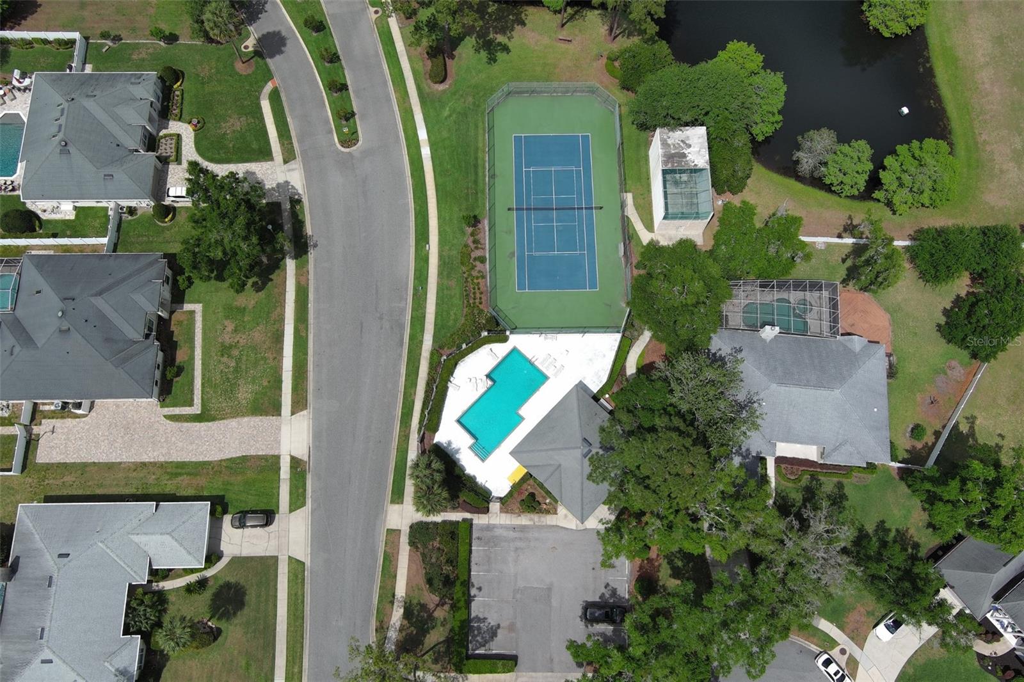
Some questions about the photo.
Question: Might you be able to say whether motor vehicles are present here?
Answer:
Yes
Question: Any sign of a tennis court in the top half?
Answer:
Yes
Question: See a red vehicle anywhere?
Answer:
No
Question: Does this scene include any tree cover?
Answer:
Yes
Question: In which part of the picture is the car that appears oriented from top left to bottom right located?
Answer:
bottom right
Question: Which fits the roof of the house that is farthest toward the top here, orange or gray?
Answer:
gray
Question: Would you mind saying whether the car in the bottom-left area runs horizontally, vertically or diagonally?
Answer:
horizontally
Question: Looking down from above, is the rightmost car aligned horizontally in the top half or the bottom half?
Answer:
bottom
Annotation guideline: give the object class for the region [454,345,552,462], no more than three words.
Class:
swimming pool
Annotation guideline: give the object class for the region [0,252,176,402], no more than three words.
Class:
house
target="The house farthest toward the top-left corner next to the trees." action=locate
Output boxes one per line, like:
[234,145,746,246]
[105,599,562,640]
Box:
[19,71,165,208]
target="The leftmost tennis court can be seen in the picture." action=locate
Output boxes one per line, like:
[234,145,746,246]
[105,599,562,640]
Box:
[489,95,624,331]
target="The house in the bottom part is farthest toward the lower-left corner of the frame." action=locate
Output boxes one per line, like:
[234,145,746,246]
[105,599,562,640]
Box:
[0,501,216,682]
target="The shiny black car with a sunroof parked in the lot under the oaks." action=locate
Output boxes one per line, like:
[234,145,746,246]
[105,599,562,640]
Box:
[584,604,628,626]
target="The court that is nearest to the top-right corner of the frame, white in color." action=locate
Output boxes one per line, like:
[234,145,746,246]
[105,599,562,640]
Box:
[650,126,713,245]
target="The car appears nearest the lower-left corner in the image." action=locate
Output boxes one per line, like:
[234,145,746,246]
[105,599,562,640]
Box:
[231,510,274,530]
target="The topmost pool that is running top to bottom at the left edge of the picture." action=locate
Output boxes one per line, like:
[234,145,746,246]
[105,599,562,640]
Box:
[0,110,26,180]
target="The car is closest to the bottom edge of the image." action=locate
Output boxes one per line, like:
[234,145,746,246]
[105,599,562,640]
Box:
[814,647,852,682]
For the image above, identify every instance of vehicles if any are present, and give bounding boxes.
[814,647,852,682]
[160,185,194,203]
[231,510,274,530]
[876,602,910,643]
[584,604,628,626]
